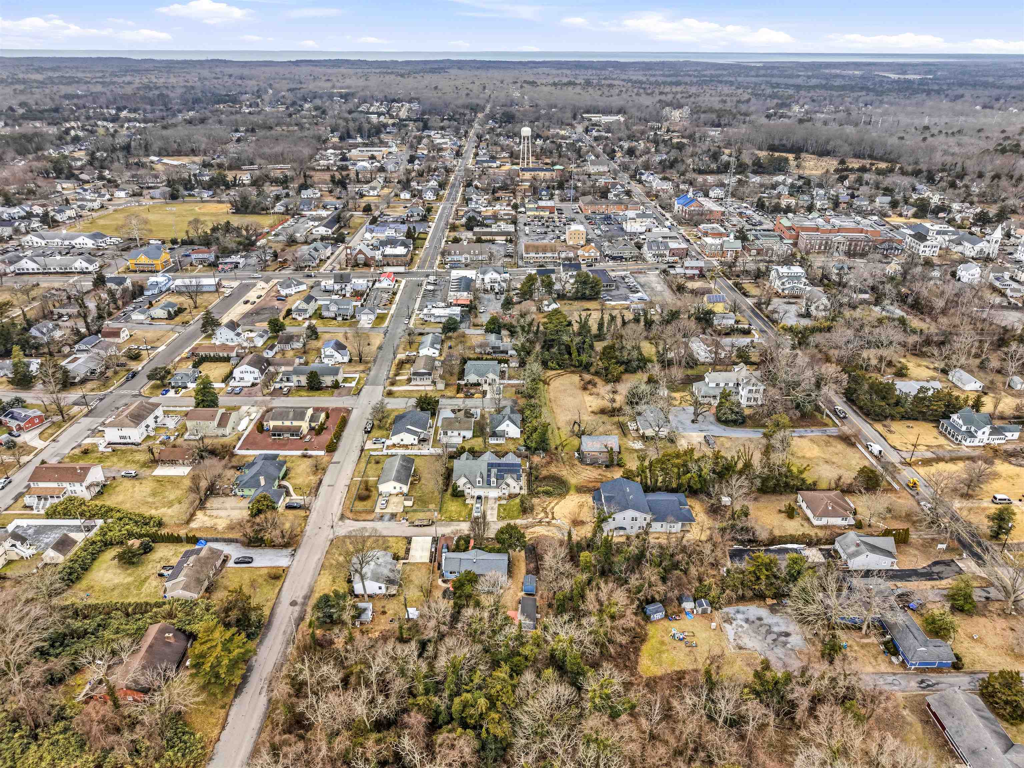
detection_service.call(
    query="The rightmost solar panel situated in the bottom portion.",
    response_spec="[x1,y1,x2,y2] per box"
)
[490,462,519,477]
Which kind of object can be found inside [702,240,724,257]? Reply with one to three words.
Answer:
building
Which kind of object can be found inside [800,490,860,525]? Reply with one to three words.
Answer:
house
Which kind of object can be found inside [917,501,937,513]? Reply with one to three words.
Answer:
vehicle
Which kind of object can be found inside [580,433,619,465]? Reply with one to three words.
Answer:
barn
